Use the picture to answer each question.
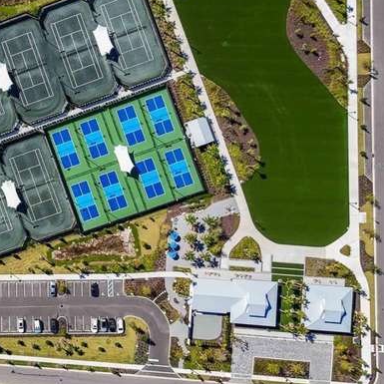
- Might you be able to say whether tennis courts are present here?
Yes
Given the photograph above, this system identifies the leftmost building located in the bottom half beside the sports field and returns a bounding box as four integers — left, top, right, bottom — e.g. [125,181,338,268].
[192,276,279,328]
